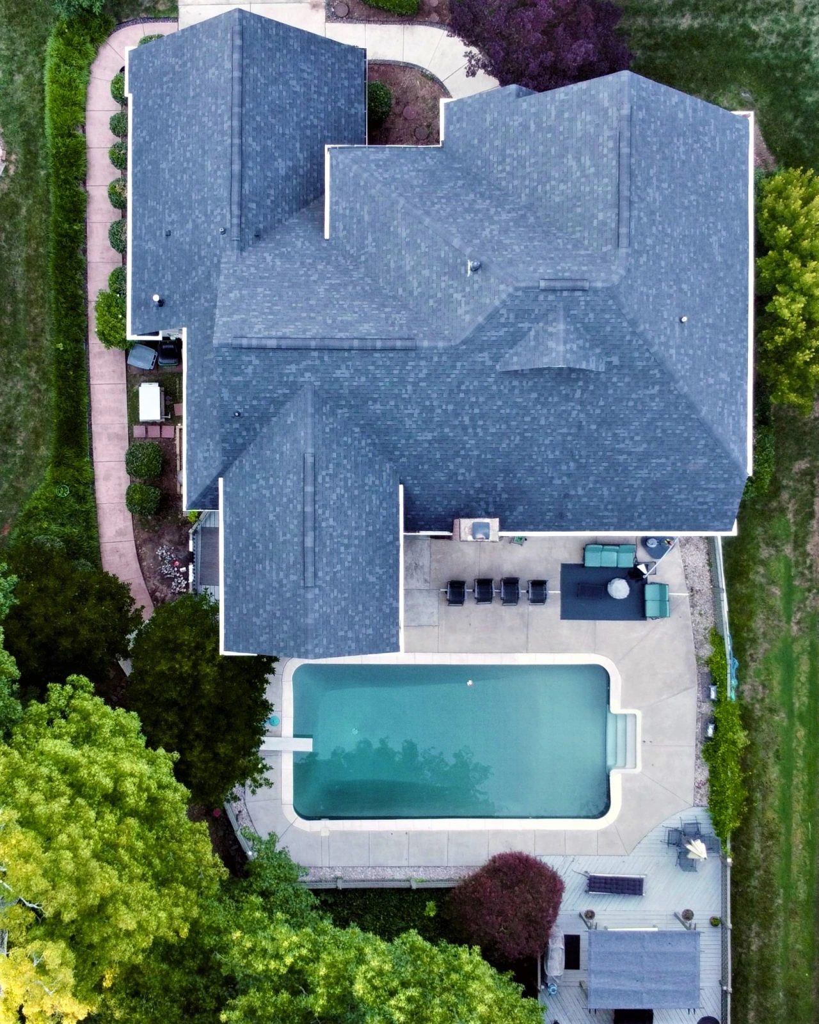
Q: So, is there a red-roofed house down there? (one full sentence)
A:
No, the frame has no red-roofed house in it.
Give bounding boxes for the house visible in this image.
[125,9,755,659]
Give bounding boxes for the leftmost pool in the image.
[282,654,641,837]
